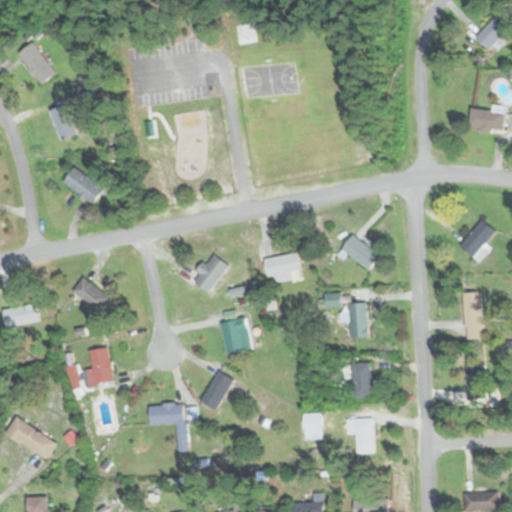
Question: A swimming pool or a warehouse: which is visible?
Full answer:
There is a swimming pool in the scene.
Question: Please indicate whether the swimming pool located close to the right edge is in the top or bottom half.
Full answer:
The top half of the photo is where the swimming pool located close to the right edge is.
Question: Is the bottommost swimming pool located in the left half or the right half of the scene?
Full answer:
The bottommost swimming pool sits on the left side.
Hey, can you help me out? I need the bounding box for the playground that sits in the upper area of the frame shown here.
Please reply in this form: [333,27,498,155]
[174,111,208,179]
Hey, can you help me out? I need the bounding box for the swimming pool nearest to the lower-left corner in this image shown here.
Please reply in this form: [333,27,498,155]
[92,395,119,436]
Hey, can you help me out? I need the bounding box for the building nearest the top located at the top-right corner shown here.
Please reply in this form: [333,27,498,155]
[476,18,503,49]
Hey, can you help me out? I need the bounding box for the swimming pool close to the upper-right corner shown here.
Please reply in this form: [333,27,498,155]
[492,78,512,106]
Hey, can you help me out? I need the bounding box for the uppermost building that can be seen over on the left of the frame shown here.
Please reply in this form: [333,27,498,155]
[18,43,57,84]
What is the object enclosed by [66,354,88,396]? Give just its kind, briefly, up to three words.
building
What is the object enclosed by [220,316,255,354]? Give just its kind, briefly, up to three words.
house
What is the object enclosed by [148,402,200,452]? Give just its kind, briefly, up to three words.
house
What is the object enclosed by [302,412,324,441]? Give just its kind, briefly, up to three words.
building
